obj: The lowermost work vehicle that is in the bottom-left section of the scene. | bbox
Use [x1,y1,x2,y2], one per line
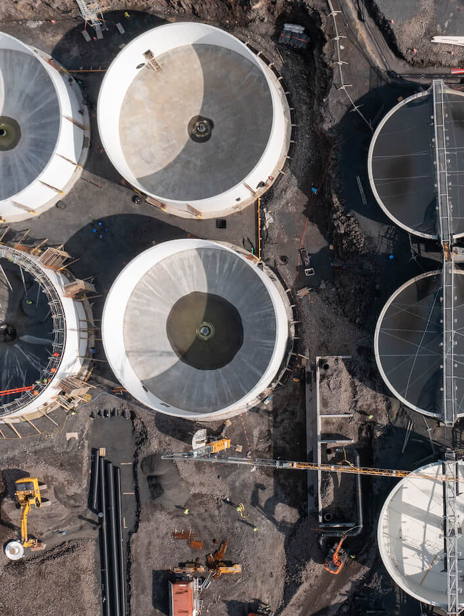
[12,471,53,545]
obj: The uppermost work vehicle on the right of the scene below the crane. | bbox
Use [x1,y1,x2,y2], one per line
[323,533,349,575]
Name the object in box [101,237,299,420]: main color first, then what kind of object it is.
white storage tank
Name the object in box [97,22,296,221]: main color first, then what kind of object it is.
white storage tank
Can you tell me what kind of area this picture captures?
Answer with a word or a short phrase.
industrial area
